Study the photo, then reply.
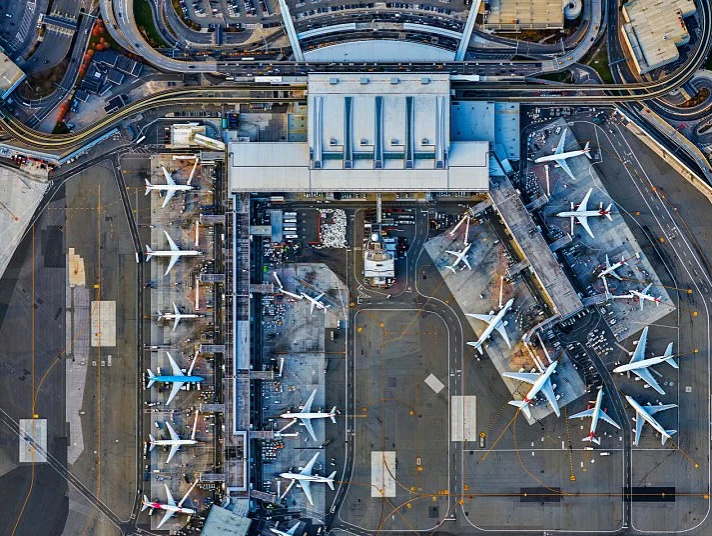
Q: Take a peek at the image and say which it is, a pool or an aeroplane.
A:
aeroplane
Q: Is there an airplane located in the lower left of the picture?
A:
Yes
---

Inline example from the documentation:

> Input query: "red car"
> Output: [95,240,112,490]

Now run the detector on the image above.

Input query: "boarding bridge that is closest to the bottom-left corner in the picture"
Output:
[178,478,199,508]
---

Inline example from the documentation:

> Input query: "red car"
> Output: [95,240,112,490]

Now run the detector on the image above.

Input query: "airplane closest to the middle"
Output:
[302,291,332,314]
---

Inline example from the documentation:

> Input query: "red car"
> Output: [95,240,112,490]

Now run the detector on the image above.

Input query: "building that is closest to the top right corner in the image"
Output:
[618,0,696,75]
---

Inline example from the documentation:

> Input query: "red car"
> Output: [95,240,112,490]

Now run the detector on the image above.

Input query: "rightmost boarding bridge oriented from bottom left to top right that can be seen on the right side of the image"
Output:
[450,212,471,236]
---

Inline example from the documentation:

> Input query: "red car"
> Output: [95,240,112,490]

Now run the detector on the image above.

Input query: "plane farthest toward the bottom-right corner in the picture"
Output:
[627,395,676,445]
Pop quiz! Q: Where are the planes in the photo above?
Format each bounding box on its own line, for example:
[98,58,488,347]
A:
[467,299,515,352]
[302,291,332,314]
[599,254,629,279]
[148,352,204,406]
[627,395,676,445]
[155,301,202,331]
[281,389,335,442]
[631,284,661,312]
[148,421,196,463]
[147,166,193,209]
[535,128,592,179]
[276,452,337,506]
[613,326,681,393]
[504,361,561,418]
[444,244,472,273]
[143,484,195,528]
[271,523,303,536]
[557,188,613,238]
[568,388,621,442]
[146,230,202,276]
